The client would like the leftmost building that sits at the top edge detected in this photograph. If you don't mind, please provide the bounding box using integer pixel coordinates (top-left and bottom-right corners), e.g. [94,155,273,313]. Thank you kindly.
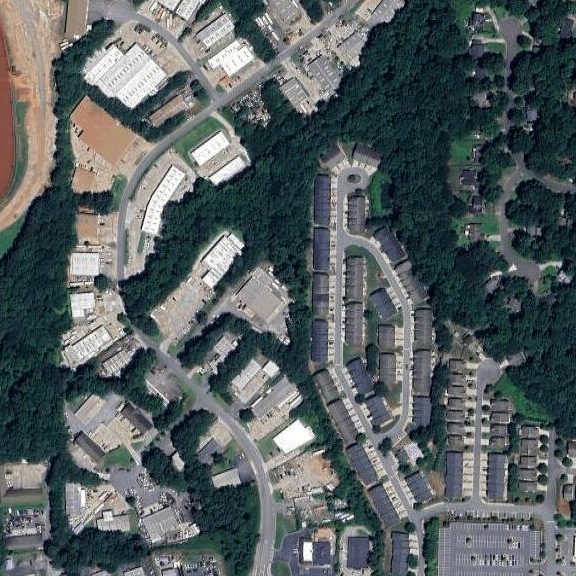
[64,0,90,36]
